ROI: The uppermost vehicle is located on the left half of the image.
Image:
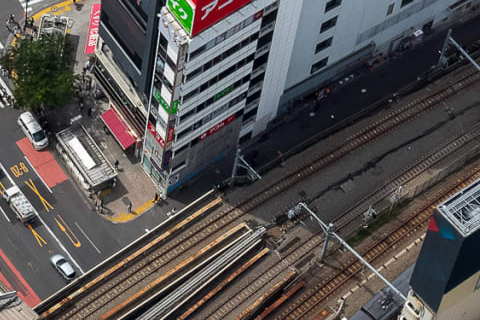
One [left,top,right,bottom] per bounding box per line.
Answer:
[18,112,48,149]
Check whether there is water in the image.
No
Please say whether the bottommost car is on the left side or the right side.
left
